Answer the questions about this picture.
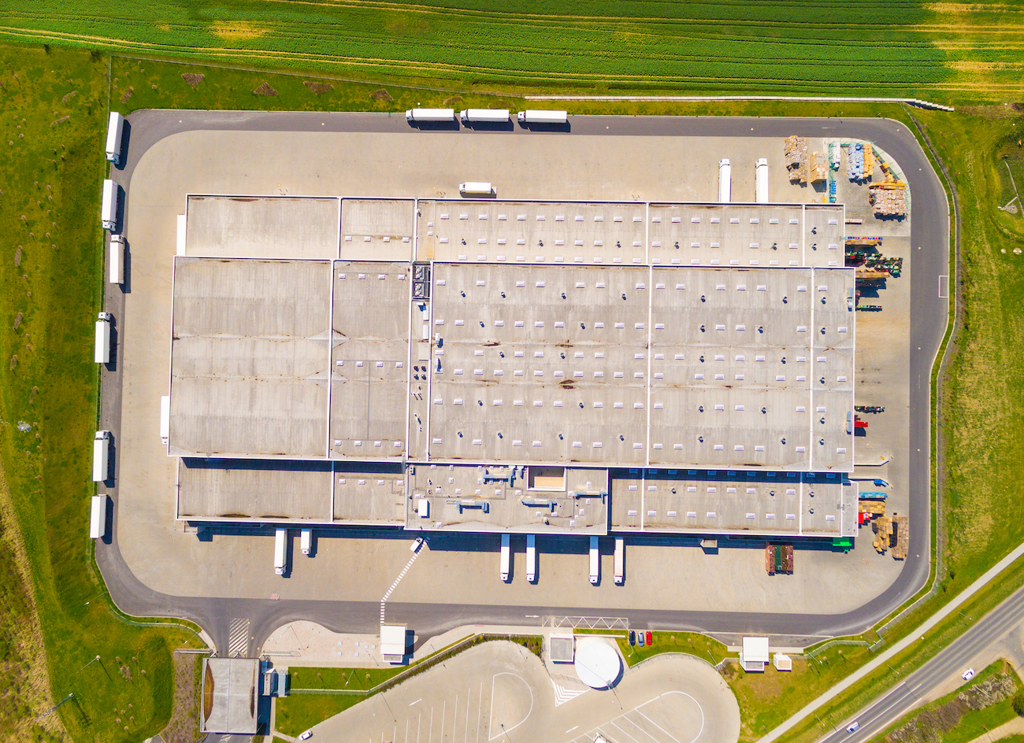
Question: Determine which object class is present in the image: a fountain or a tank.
tank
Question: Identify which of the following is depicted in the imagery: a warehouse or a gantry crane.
warehouse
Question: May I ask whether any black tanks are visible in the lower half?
No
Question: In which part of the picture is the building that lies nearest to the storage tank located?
bottom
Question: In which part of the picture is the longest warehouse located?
center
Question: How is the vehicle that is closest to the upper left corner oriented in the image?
up and down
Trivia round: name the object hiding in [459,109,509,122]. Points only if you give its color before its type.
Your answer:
white vehicle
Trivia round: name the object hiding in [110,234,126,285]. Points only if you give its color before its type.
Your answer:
white vehicle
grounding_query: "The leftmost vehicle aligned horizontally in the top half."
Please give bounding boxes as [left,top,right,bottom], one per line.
[404,108,455,121]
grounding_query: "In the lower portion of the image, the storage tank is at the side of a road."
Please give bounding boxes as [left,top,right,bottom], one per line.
[572,637,620,688]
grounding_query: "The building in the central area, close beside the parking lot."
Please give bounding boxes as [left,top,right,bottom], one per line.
[168,194,859,543]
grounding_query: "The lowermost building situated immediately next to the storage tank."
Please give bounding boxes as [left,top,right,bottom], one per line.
[550,630,573,662]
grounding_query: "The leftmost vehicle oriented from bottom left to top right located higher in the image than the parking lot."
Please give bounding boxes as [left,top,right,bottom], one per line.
[410,536,423,552]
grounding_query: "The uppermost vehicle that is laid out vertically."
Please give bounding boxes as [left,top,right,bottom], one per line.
[106,109,126,164]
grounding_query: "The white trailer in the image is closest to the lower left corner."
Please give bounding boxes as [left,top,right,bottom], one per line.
[90,495,107,539]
